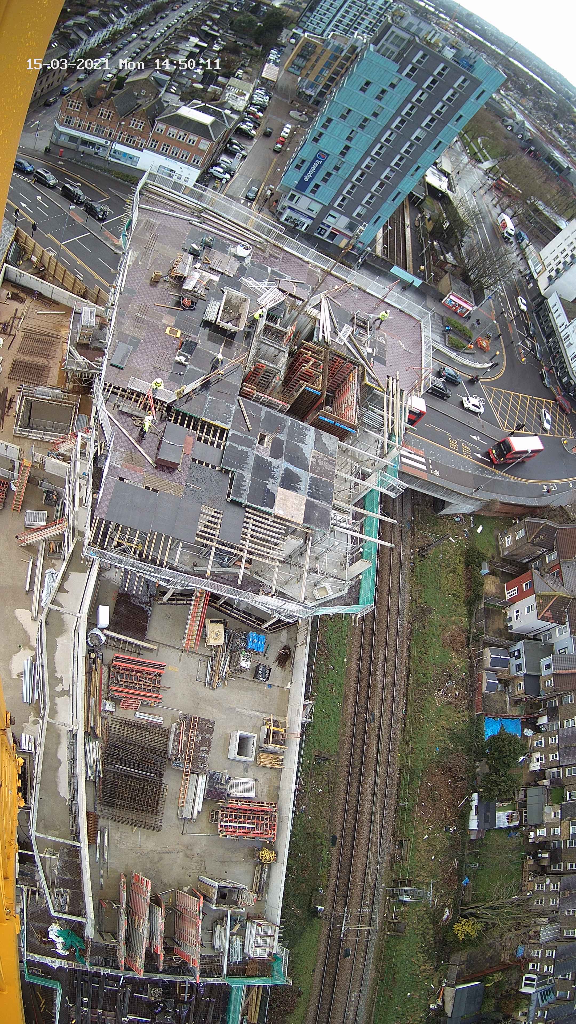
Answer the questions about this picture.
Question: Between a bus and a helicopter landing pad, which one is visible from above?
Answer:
bus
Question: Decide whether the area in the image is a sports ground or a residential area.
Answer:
residential area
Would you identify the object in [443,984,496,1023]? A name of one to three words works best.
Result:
shed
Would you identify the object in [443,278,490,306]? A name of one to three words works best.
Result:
building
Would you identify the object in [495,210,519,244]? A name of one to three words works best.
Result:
truck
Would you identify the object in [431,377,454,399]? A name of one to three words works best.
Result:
car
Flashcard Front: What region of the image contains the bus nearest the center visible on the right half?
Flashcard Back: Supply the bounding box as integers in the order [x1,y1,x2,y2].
[391,391,426,426]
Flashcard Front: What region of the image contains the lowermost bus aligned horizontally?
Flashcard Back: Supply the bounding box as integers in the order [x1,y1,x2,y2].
[481,435,548,468]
